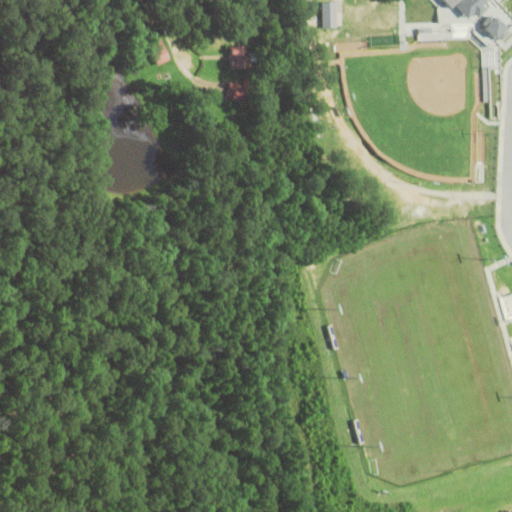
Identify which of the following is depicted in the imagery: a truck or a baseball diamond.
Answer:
baseball diamond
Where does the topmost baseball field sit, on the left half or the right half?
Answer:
right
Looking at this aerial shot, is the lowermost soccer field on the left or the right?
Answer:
right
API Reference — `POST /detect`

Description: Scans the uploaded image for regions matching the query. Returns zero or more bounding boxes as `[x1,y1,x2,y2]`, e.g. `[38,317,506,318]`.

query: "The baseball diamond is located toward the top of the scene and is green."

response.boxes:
[336,42,484,184]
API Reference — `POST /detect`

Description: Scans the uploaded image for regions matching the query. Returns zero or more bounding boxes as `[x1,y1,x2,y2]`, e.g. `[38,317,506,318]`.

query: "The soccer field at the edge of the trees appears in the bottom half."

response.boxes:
[320,218,512,486]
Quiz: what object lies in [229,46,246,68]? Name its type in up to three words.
house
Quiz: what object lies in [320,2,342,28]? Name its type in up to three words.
barn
